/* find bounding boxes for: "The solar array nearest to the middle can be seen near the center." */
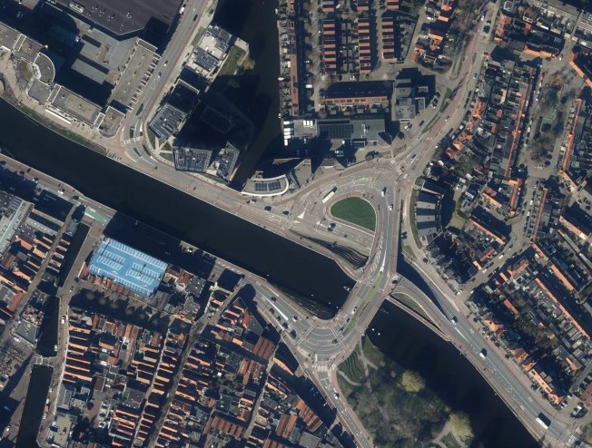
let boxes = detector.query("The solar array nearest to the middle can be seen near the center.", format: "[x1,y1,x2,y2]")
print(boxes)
[250,177,287,195]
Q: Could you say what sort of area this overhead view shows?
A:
residential area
